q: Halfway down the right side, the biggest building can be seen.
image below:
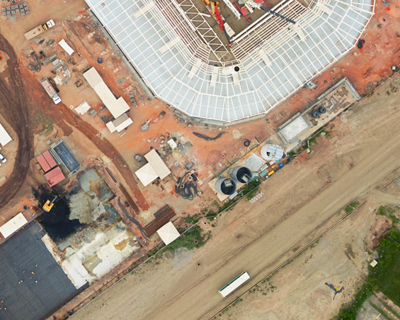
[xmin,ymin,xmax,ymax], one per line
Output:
[280,116,309,143]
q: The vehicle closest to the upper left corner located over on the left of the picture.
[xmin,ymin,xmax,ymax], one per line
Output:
[23,20,55,39]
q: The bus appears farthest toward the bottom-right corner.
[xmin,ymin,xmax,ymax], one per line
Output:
[216,269,249,297]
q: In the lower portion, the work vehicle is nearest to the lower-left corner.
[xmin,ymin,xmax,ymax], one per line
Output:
[42,194,61,213]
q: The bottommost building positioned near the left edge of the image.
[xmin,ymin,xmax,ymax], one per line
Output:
[0,213,27,238]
